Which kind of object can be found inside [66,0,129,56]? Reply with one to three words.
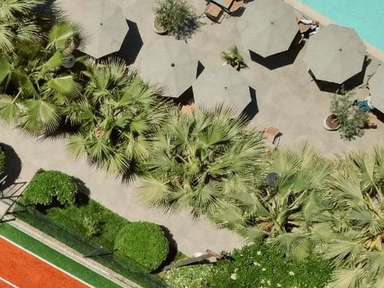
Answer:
umbrella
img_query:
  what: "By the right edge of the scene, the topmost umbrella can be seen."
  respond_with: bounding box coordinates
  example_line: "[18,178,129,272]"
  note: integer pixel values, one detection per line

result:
[300,21,367,81]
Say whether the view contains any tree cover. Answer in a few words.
Yes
